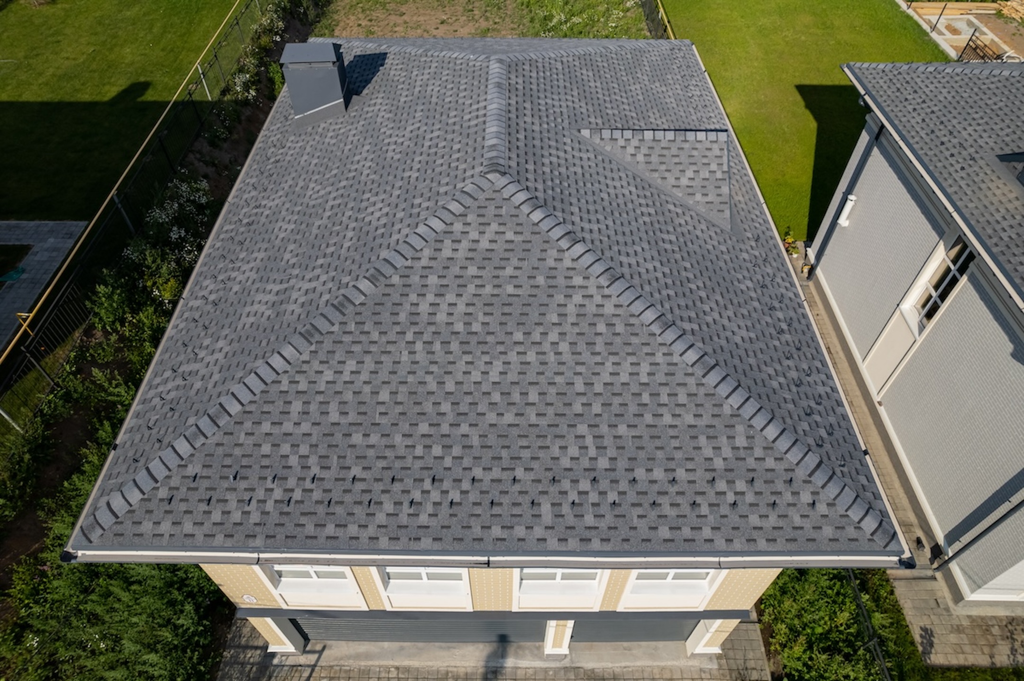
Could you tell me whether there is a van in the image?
No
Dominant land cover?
buildings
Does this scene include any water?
No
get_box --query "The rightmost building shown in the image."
[802,66,1024,604]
